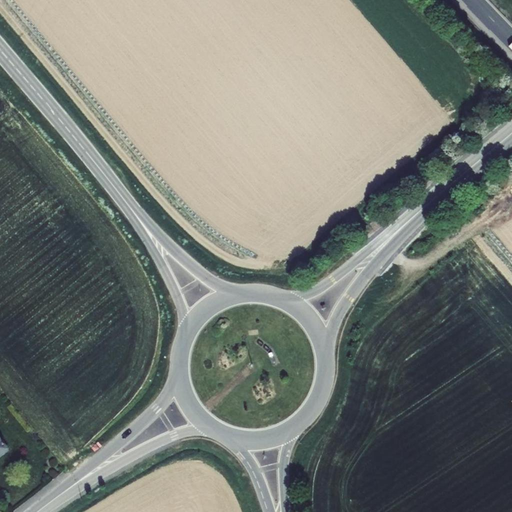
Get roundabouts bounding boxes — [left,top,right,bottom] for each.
[168,282,336,450]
